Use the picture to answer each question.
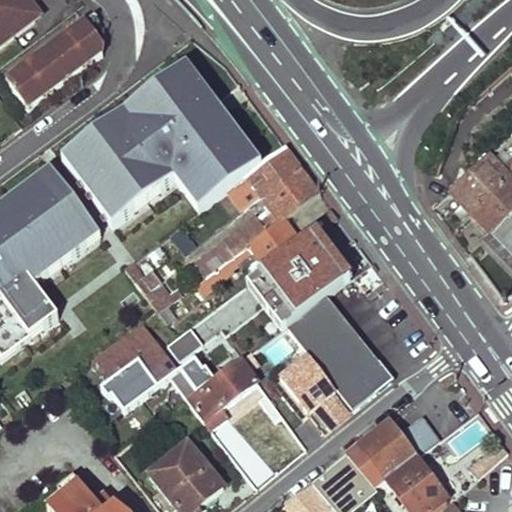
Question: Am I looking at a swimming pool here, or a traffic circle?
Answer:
swimming pool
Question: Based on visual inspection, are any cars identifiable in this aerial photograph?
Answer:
Yes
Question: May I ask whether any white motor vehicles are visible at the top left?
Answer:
Yes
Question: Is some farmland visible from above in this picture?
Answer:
No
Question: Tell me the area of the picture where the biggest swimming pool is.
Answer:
bottom right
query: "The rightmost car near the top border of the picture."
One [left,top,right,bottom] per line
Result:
[258,26,278,48]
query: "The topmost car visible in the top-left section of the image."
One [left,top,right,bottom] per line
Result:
[86,8,102,26]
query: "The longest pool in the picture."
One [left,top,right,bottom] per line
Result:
[446,418,492,459]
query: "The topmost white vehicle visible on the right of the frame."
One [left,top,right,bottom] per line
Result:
[310,116,328,138]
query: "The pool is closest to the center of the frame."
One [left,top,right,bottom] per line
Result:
[264,336,296,367]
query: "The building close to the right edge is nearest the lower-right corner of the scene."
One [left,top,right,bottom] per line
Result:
[470,451,508,484]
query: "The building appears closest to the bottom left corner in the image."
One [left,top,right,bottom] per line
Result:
[45,472,104,512]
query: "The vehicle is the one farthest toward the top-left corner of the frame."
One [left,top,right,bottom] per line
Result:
[17,28,38,48]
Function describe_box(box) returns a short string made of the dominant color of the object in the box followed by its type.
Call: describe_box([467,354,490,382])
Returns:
white vehicle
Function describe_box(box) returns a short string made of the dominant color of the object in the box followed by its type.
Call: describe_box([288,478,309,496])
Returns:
white car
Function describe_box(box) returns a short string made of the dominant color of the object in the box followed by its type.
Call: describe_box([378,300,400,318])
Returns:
white car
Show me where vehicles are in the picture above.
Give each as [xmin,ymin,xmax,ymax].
[103,454,120,472]
[402,329,424,347]
[30,474,51,494]
[310,116,328,138]
[448,400,468,421]
[70,88,92,106]
[17,28,38,48]
[489,473,500,494]
[258,26,278,48]
[86,8,102,26]
[378,300,400,318]
[288,478,309,496]
[500,465,512,491]
[390,392,414,412]
[464,502,488,512]
[38,401,58,421]
[306,463,328,482]
[450,269,468,290]
[467,354,490,382]
[388,309,410,327]
[422,294,440,316]
[408,341,429,358]
[503,352,512,370]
